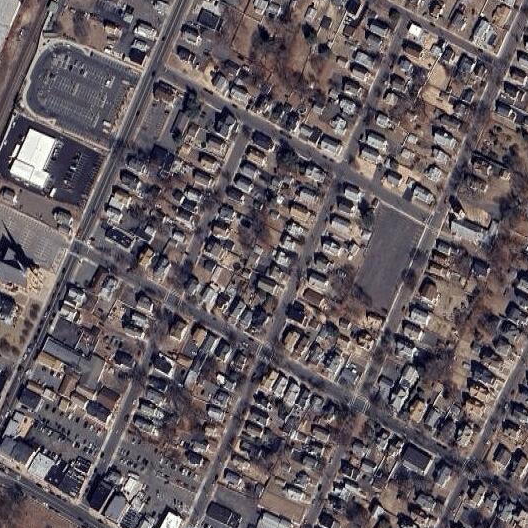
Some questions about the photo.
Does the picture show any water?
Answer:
No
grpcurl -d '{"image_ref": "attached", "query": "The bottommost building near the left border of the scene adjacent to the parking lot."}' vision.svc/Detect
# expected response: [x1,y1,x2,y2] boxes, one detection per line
[11,128,58,187]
